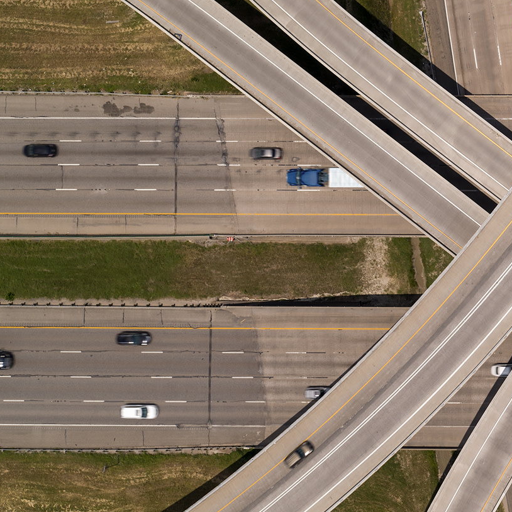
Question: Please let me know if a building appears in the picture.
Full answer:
No, the frame has no building in it.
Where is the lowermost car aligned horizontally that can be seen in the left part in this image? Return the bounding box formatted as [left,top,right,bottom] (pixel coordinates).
[123,403,158,420]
